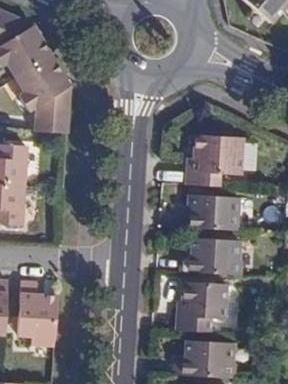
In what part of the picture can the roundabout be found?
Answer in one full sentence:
The roundabout sits in the top section of the image.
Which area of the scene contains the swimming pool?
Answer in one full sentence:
The swimming pool is in the right part of the image.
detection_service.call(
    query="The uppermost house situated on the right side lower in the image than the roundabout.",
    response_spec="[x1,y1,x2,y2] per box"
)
[184,135,257,187]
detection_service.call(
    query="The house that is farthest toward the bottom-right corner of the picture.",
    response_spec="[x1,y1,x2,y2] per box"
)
[182,341,238,378]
